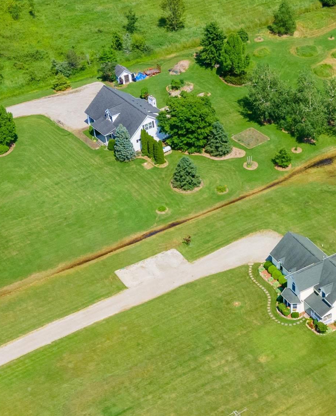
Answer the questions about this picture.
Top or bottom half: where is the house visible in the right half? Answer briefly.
bottom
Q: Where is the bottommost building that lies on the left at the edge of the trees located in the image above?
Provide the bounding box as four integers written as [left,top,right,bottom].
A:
[84,85,166,152]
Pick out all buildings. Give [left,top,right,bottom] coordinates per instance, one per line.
[269,231,336,324]
[113,65,132,85]
[84,85,166,152]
